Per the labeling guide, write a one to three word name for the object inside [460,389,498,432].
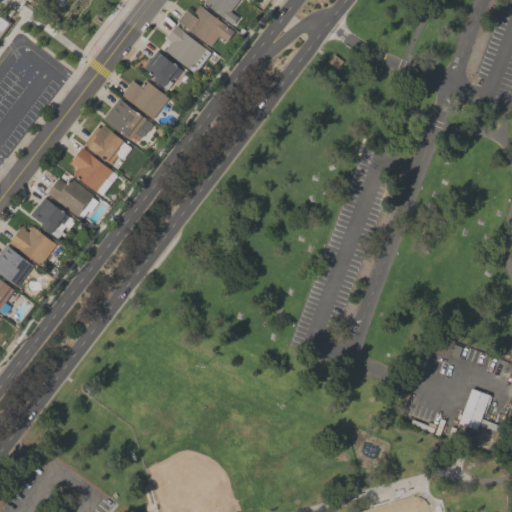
building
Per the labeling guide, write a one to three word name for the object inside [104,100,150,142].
house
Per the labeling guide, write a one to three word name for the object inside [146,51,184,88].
house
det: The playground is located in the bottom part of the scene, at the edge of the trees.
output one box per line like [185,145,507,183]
[352,430,390,471]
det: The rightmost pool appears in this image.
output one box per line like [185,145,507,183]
[159,104,176,125]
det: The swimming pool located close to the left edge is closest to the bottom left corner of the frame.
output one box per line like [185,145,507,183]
[16,301,32,321]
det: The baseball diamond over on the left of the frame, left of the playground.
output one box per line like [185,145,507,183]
[148,450,241,512]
